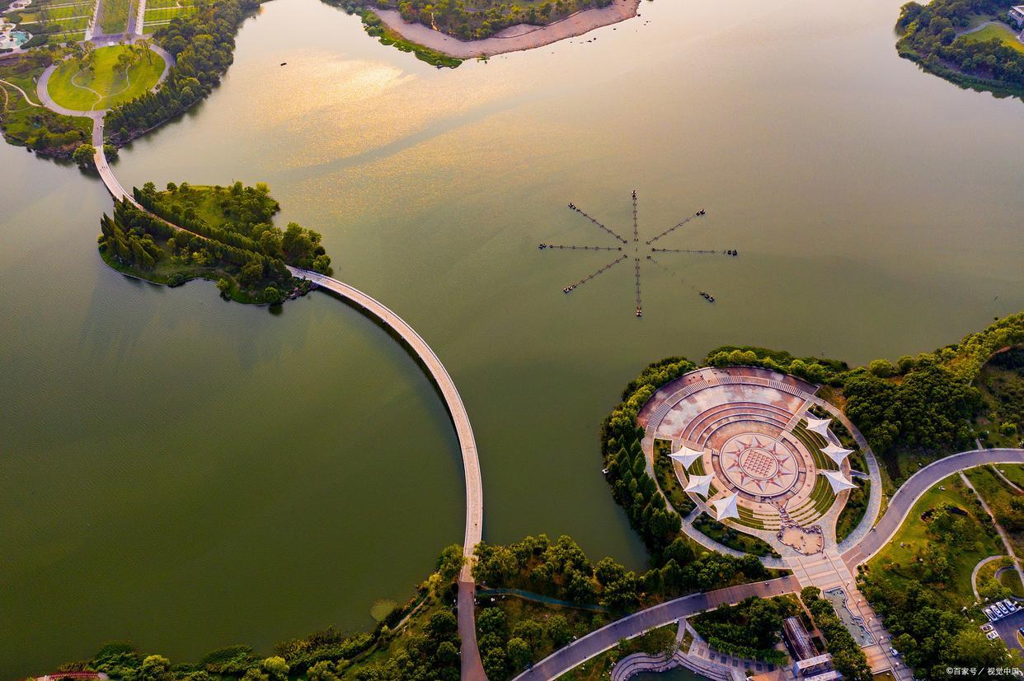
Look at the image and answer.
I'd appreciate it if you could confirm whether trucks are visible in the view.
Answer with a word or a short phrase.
No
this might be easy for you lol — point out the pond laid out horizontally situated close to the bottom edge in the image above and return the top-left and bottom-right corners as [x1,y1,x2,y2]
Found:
[611,653,736,681]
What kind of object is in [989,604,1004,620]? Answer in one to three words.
car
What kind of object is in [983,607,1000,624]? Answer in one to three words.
car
